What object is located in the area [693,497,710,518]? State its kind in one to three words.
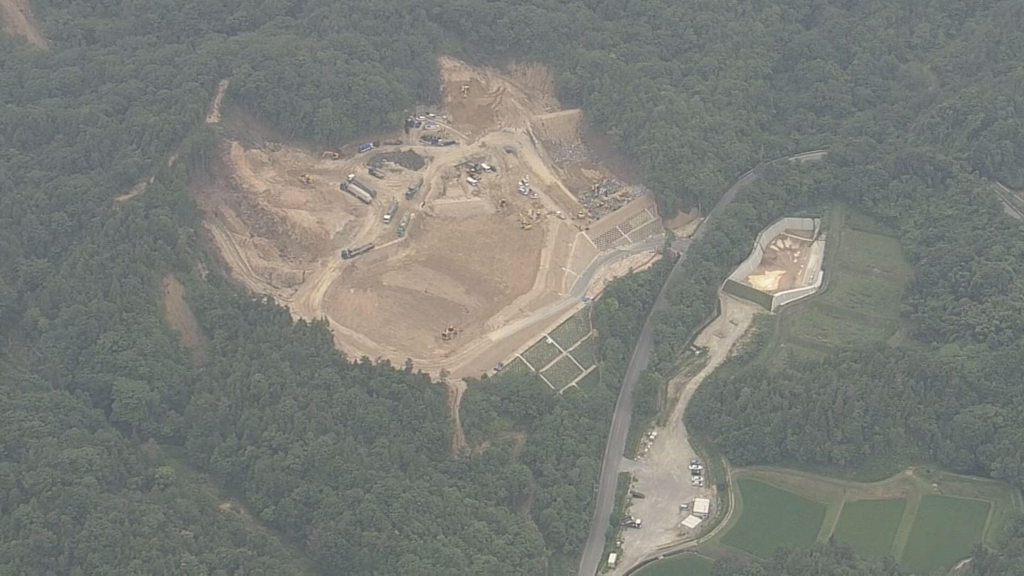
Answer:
building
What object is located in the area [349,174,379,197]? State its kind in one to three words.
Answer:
truck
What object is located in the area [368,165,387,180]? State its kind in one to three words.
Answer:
vehicle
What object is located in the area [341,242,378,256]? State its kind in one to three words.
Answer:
vehicle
